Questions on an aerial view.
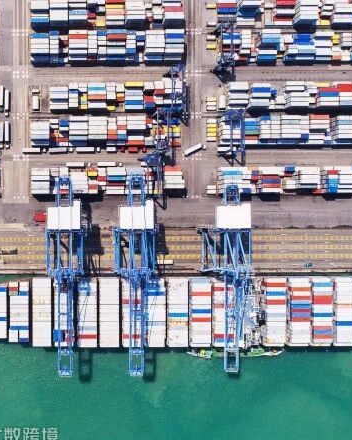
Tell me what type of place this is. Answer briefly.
port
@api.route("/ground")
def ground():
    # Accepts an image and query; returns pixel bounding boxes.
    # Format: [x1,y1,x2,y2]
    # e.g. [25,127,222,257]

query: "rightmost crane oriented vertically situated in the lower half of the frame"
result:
[202,185,266,376]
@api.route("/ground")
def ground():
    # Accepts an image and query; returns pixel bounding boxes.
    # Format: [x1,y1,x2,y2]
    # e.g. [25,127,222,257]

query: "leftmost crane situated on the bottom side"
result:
[45,173,107,378]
